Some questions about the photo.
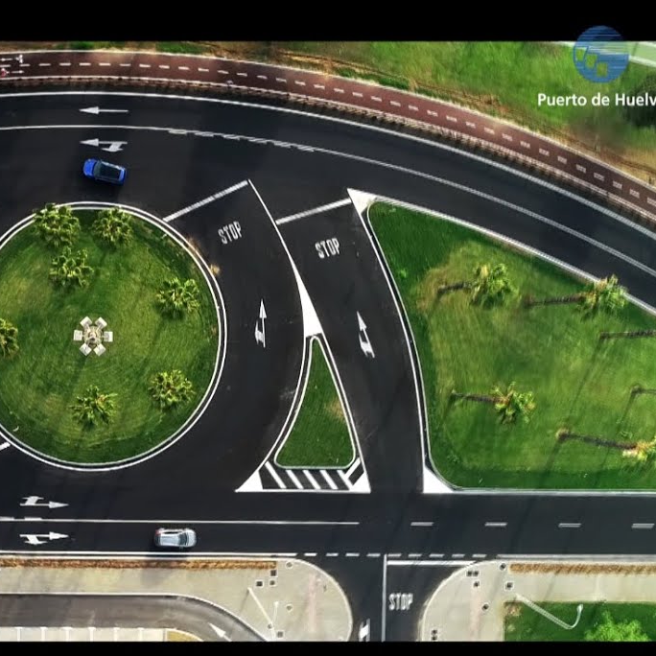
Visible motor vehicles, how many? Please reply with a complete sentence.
The picture shows 2 motor vehicles.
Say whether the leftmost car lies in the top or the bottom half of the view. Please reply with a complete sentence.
Seen from above, the leftmost car lies in the top half of the view.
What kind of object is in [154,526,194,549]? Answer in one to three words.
car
